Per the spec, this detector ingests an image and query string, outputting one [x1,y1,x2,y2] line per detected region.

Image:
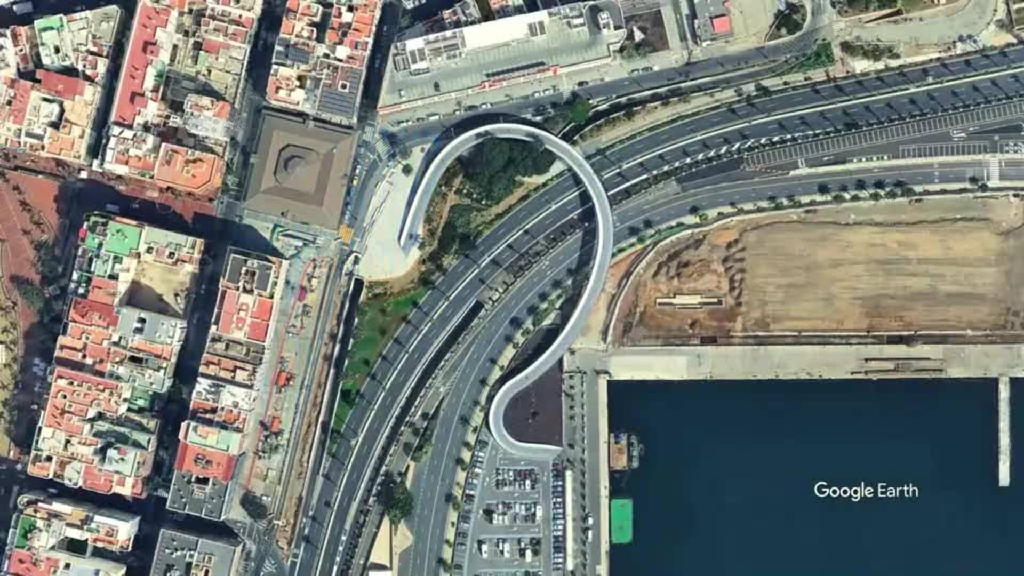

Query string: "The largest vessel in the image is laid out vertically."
[610,433,627,470]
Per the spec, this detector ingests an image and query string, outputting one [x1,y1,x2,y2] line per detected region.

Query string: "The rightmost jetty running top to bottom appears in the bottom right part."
[998,377,1010,485]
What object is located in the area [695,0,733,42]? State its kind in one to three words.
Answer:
building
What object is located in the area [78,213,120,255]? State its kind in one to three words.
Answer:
building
